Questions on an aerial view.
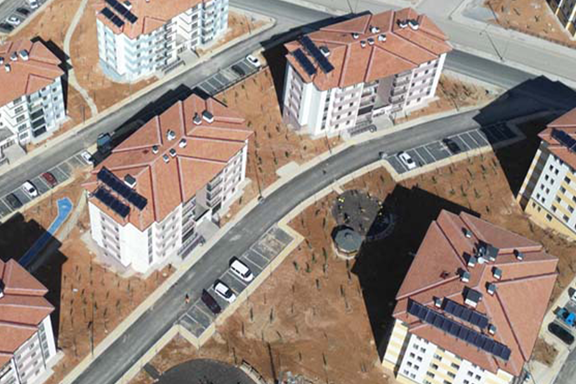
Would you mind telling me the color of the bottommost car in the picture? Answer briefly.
black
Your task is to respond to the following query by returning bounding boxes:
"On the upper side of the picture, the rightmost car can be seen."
[443,133,461,151]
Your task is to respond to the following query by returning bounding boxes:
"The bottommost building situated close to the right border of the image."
[380,209,559,384]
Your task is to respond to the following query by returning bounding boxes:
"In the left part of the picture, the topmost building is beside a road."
[92,0,228,82]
